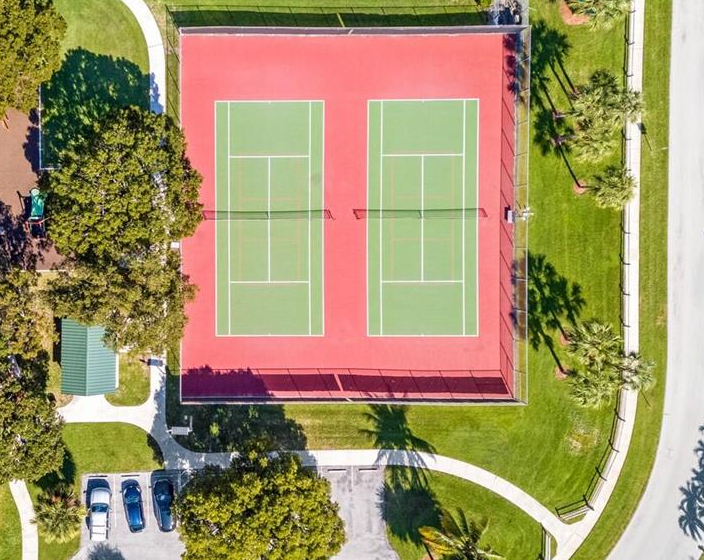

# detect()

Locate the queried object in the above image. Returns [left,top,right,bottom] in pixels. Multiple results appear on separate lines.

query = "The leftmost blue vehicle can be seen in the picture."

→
[121,483,144,532]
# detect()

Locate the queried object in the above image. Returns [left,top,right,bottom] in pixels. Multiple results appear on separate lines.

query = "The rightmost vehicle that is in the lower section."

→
[152,482,174,530]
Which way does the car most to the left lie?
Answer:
up and down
